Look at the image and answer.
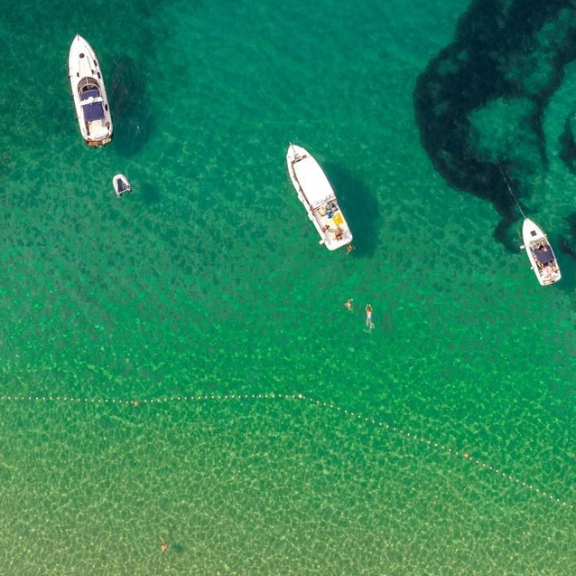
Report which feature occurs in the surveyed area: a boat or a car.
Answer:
boat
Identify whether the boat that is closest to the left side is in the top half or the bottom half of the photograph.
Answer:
top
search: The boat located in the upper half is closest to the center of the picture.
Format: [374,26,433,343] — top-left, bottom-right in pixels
[289,140,350,250]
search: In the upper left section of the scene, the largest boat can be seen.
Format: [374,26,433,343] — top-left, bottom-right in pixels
[69,33,112,146]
